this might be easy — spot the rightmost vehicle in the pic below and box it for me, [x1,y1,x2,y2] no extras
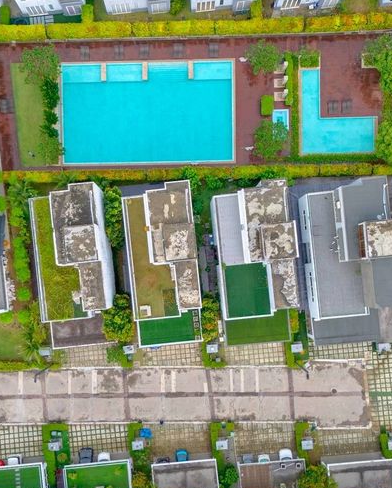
[278,447,293,460]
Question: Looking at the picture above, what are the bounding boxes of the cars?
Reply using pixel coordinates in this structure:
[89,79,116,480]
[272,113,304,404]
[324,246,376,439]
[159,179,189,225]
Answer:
[8,455,22,465]
[256,453,269,462]
[241,453,255,464]
[79,447,93,465]
[278,447,293,460]
[97,451,111,462]
[0,458,5,466]
[175,448,189,462]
